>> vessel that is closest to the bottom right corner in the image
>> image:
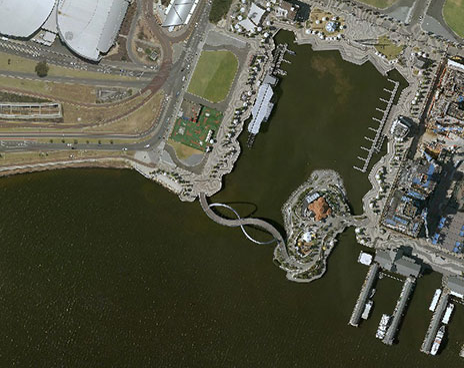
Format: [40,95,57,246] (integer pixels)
[431,326,444,355]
